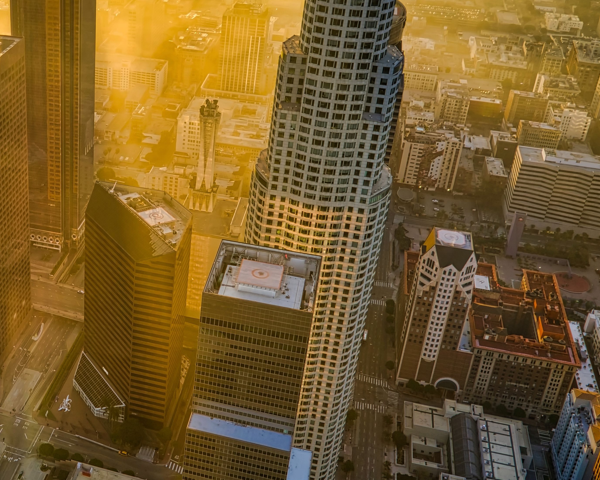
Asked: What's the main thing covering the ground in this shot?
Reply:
buildings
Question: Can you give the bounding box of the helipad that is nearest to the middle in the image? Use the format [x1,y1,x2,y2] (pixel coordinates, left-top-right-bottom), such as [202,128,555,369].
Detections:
[236,259,284,291]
